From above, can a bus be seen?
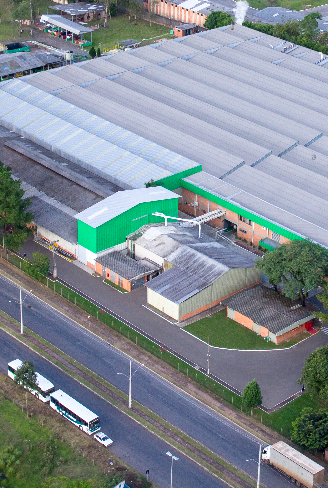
Yes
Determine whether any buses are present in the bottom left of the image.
Yes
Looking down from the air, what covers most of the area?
buildings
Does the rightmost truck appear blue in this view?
No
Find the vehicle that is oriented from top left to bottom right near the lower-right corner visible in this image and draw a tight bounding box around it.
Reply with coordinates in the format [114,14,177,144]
[262,442,324,488]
